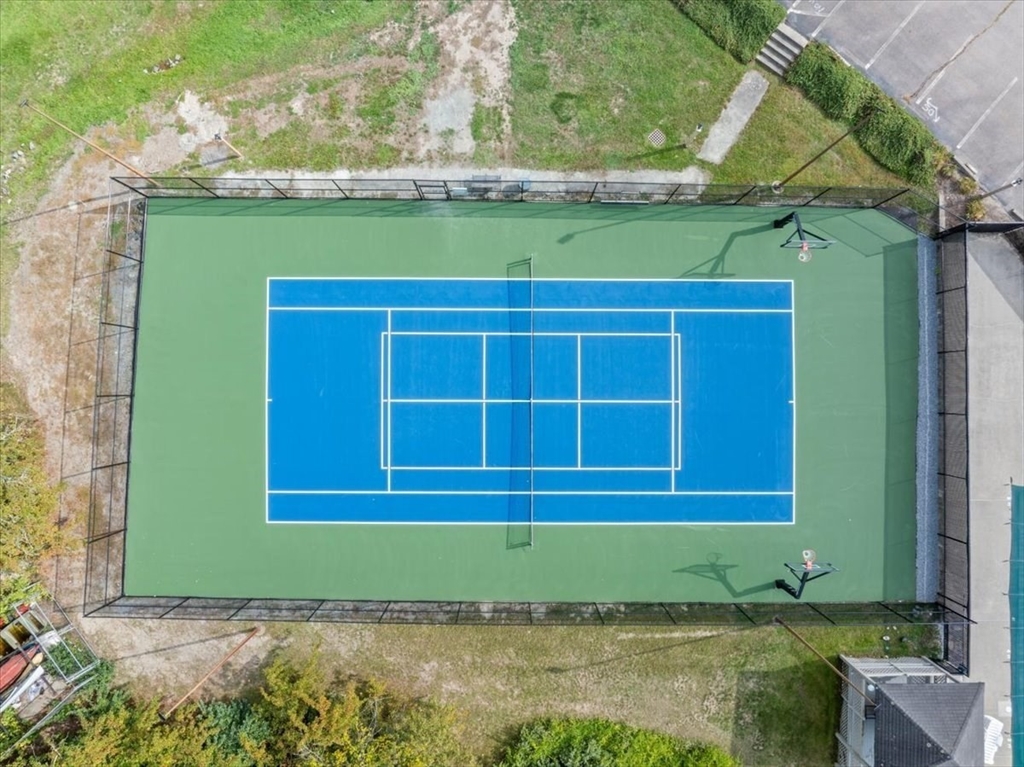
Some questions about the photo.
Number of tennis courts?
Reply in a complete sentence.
Altogether the scene contains 1 tennis court.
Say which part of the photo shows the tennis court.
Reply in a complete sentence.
The tennis court appears toward the center of the photo.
